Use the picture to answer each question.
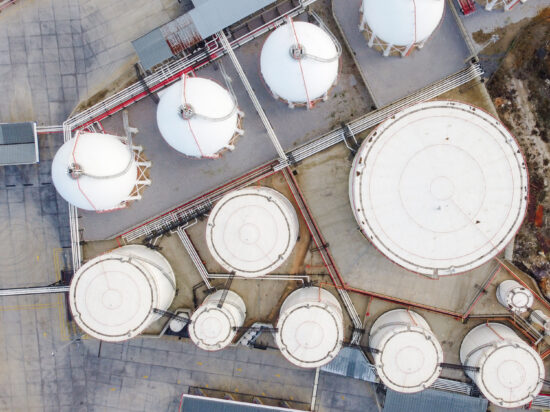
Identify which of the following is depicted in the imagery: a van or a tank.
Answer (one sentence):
Visible in the photo is a tank.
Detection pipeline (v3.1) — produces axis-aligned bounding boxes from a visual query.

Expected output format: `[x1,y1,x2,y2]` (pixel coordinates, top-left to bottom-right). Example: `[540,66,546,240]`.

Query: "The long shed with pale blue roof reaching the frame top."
[186,0,280,45]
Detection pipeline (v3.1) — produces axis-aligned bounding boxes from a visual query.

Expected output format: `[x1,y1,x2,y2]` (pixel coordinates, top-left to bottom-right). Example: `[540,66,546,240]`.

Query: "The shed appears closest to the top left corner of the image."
[132,28,176,73]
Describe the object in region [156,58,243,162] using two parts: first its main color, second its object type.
white storage tank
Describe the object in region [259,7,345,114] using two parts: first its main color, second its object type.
white storage tank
